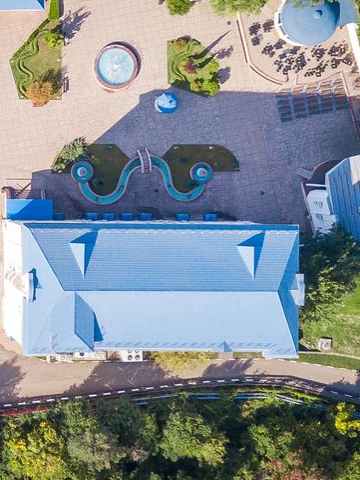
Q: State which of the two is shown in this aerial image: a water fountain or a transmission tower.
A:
water fountain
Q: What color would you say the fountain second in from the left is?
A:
white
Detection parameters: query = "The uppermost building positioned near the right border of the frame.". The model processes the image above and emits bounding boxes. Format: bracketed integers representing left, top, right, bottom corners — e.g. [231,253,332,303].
[271,0,359,47]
